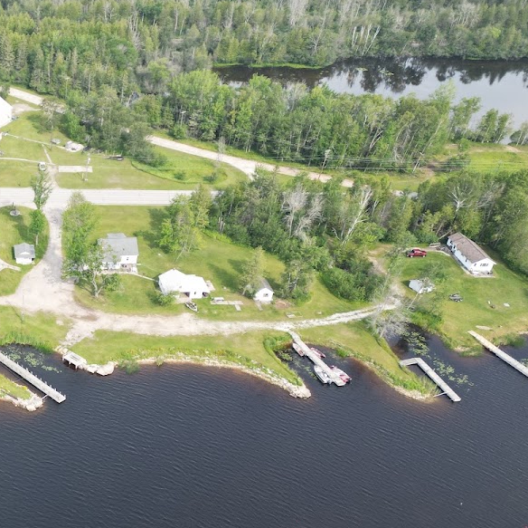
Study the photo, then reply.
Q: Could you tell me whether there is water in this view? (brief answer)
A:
Yes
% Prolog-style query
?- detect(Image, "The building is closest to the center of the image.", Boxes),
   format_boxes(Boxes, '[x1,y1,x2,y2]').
[245,272,277,303]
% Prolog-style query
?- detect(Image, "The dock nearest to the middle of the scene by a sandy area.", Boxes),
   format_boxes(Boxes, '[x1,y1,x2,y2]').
[292,337,347,387]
